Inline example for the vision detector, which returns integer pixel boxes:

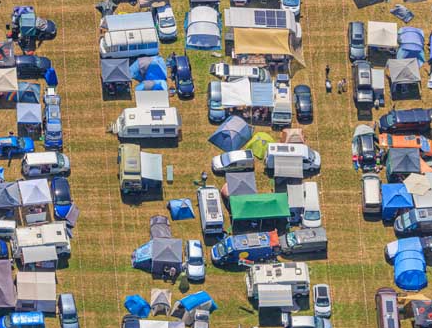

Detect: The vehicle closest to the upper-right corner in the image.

[348,25,368,61]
